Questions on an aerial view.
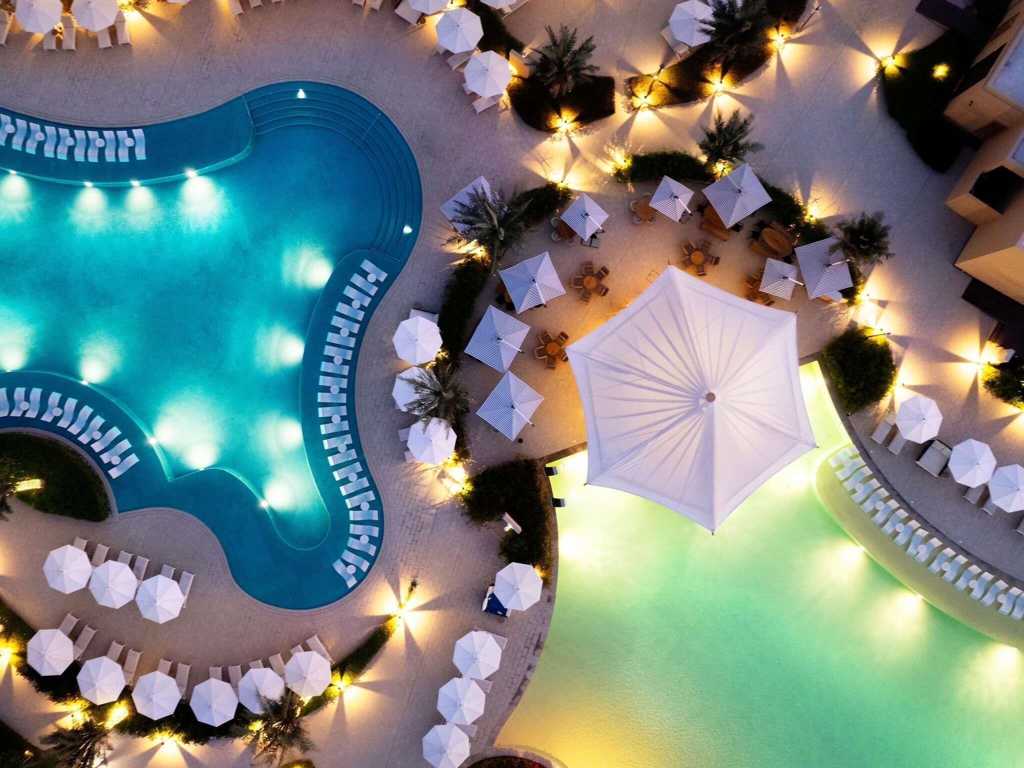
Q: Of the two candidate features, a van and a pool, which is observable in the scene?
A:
pool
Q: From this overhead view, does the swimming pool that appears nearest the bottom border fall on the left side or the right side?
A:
right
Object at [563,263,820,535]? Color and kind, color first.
white tent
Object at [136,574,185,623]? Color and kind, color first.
white umbrella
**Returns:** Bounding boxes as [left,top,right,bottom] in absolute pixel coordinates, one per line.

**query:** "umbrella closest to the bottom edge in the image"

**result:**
[422,724,469,768]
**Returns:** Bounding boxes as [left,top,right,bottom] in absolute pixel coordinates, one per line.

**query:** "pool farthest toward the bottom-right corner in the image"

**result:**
[494,362,1024,768]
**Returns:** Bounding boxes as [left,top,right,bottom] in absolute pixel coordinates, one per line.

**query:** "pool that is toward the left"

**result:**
[0,81,422,610]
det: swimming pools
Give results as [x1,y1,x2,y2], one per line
[494,362,1024,768]
[0,81,422,610]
